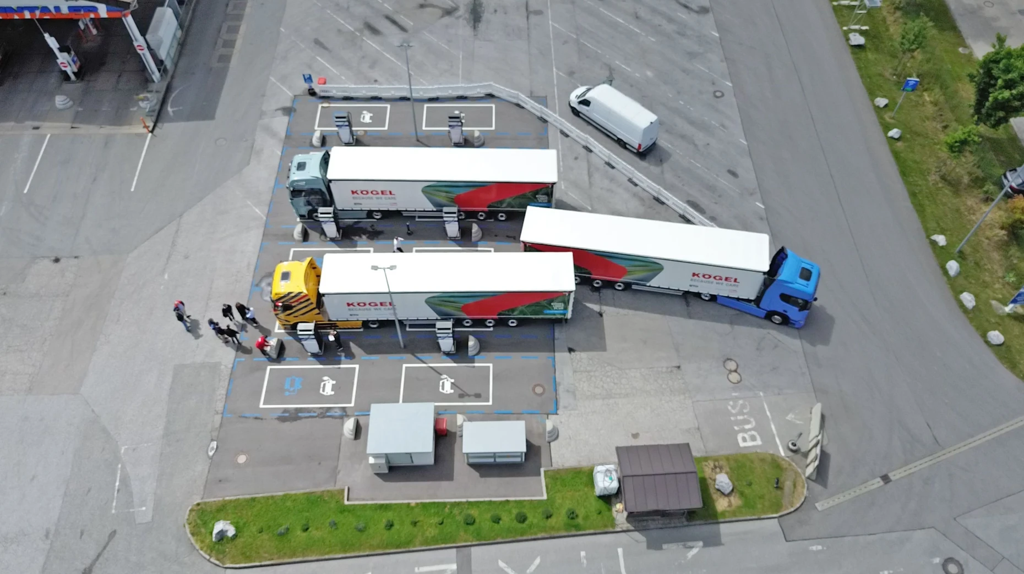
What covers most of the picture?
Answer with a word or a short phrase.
paved ground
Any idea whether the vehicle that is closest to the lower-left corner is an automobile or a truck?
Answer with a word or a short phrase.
truck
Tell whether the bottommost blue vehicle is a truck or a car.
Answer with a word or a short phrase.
truck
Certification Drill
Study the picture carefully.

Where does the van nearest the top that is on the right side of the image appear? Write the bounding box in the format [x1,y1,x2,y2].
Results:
[567,76,663,155]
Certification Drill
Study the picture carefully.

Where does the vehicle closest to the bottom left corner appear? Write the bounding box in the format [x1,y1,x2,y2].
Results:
[273,258,388,330]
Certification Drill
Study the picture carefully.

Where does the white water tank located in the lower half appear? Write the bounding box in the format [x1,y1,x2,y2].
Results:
[593,464,617,495]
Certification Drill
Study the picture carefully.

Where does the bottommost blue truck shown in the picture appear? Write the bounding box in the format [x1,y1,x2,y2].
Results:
[702,252,820,328]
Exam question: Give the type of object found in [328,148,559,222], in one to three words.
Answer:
trailer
